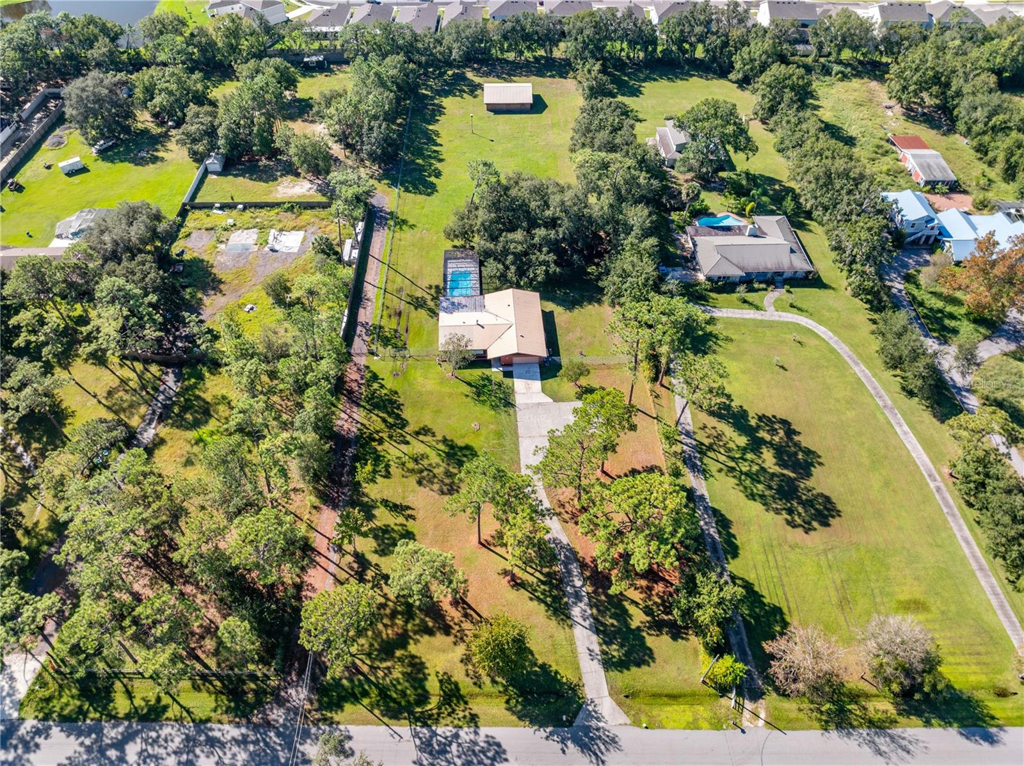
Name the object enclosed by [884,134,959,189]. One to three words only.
barn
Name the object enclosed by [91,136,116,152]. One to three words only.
vehicle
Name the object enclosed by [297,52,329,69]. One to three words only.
shed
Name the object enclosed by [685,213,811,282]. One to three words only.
house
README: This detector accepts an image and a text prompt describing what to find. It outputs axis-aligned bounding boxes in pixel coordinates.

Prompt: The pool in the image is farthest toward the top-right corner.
[687,209,748,225]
